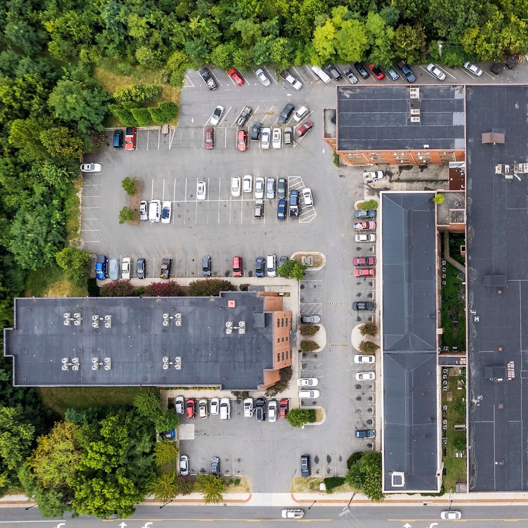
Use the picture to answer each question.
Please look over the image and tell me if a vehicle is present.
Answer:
Yes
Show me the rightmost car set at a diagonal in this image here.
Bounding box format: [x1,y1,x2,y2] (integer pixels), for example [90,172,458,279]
[464,63,483,79]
